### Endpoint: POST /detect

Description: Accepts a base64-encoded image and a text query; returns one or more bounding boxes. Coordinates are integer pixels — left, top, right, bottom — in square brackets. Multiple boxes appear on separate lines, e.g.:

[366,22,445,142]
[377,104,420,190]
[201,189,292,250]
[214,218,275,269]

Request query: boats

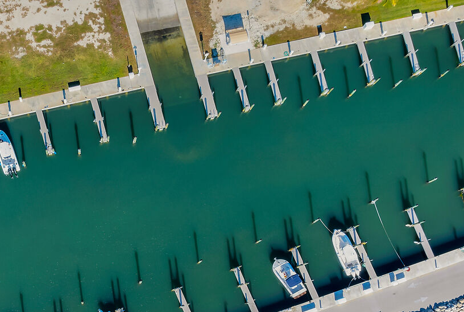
[334,228,359,277]
[0,130,20,175]
[276,258,304,300]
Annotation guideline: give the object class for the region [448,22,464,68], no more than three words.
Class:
pier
